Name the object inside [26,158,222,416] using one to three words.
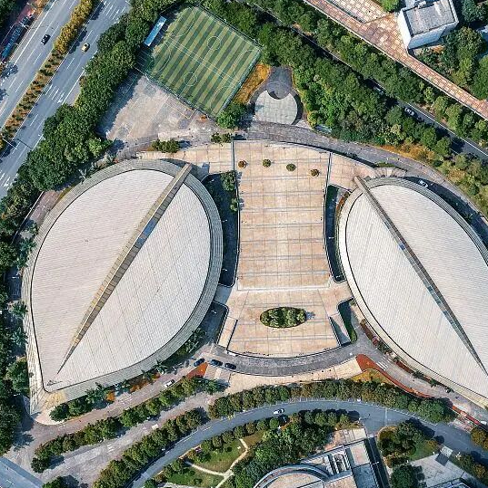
building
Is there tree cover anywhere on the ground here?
Yes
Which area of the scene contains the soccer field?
top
